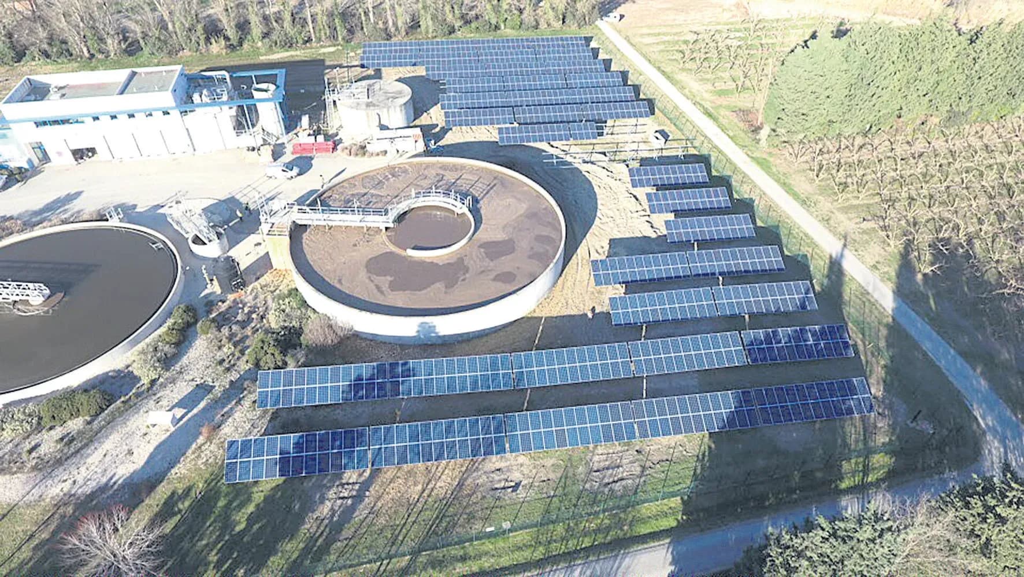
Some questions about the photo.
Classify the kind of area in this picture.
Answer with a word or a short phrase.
industrial area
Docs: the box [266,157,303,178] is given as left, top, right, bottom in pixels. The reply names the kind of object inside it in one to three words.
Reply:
vehicle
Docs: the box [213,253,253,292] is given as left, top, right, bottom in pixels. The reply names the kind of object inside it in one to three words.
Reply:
storage tank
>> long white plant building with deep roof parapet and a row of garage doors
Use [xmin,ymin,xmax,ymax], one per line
[0,66,291,171]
